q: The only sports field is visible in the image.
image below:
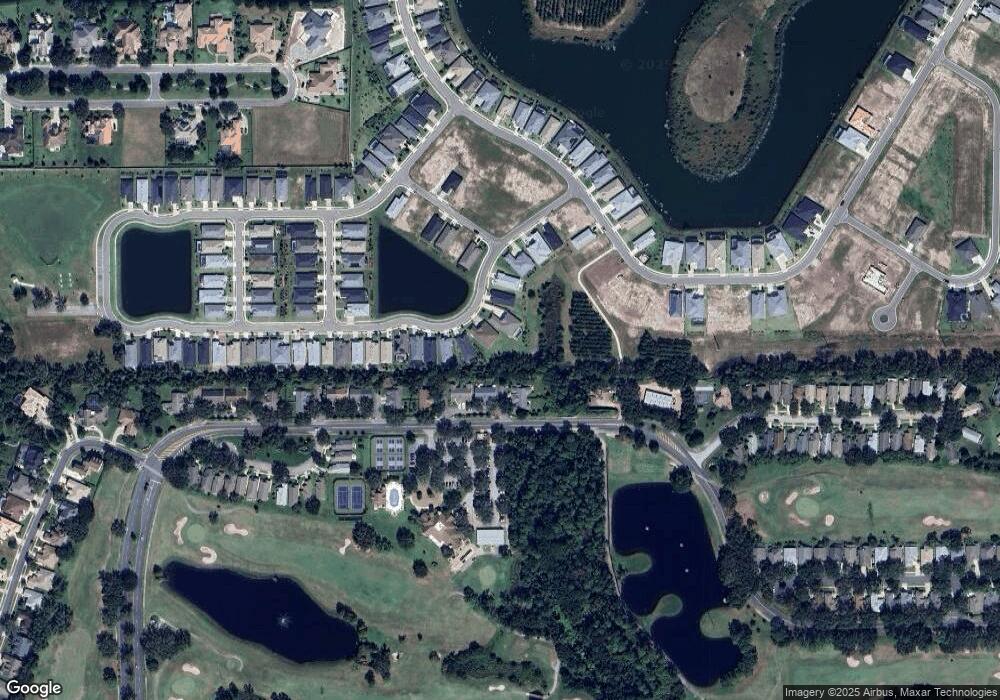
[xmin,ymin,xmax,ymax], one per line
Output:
[0,183,104,265]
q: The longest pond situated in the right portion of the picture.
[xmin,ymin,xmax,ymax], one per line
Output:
[611,483,740,685]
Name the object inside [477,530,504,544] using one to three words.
building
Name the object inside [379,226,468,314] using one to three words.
pond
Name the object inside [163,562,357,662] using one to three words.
pond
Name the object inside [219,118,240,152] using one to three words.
house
